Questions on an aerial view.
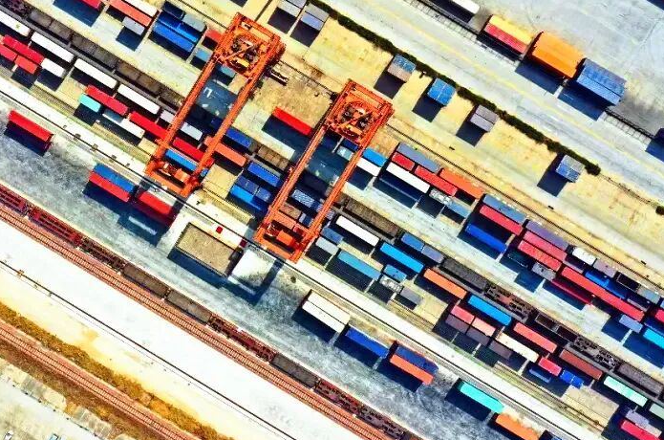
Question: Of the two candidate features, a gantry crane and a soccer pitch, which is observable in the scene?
gantry crane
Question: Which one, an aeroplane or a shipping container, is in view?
shipping container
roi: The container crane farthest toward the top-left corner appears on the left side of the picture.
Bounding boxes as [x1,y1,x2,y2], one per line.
[143,14,279,206]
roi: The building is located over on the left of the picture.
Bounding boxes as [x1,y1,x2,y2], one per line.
[175,222,238,274]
